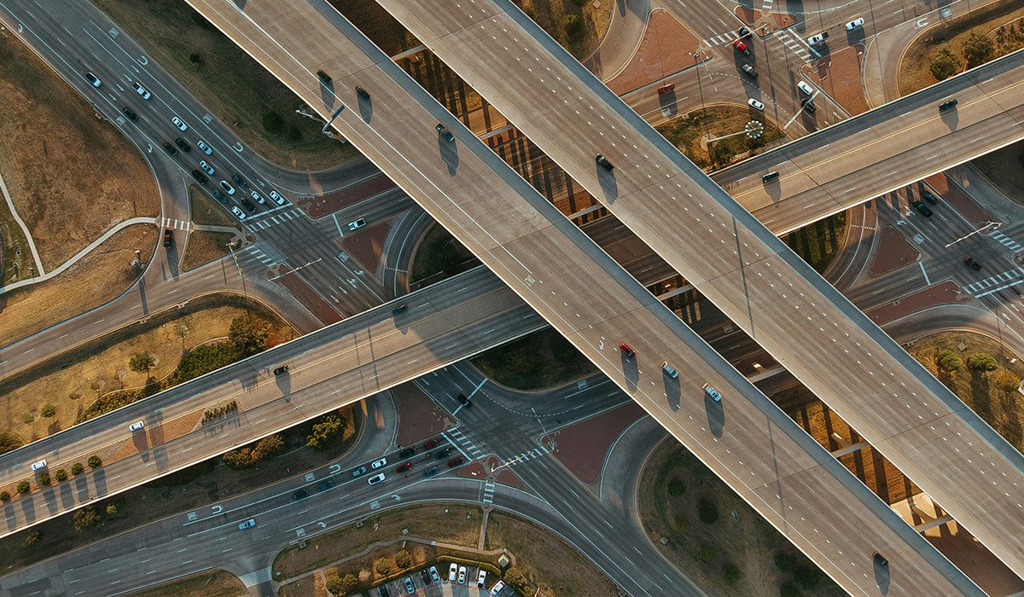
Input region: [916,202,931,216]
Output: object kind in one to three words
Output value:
car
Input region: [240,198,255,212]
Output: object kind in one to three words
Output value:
car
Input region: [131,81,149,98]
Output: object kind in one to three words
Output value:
vehicle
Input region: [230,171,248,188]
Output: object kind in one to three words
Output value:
vehicle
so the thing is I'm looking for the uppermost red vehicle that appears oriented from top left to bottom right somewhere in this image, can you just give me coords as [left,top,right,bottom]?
[734,39,752,55]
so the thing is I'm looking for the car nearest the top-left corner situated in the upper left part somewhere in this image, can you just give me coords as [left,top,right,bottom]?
[85,72,100,85]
